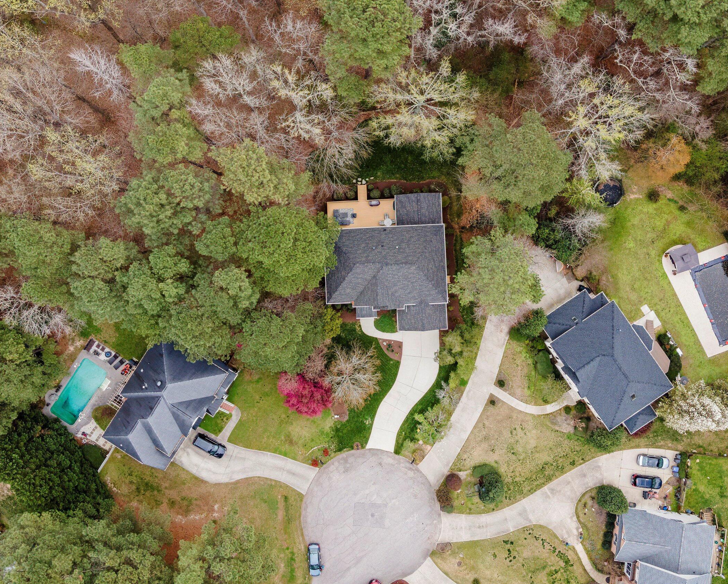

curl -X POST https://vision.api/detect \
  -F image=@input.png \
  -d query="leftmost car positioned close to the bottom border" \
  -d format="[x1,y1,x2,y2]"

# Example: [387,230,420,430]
[306,544,324,578]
